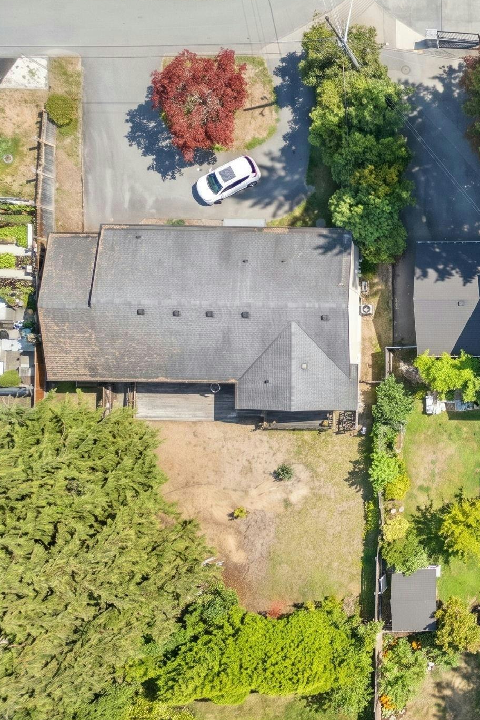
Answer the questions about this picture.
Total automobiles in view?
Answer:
1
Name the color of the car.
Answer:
white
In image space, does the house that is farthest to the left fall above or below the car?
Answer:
below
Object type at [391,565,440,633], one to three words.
shed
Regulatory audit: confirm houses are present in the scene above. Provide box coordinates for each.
[37,225,363,411]
[413,241,480,358]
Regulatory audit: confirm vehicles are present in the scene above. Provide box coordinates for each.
[195,157,257,204]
